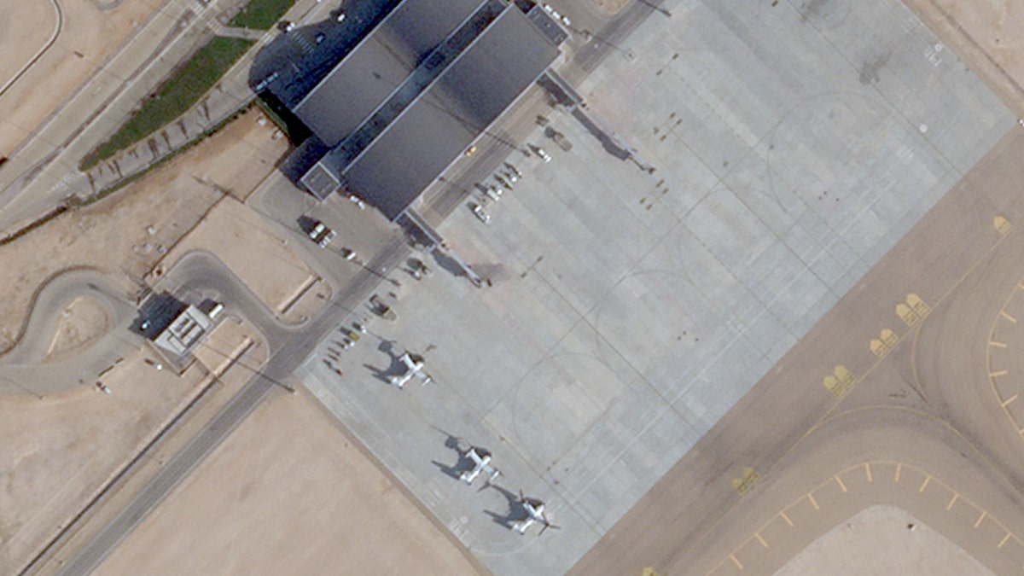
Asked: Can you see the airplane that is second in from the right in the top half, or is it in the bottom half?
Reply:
bottom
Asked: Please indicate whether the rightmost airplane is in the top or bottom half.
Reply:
bottom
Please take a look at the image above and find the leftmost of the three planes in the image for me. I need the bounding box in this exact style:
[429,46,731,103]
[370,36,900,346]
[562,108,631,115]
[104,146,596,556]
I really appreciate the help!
[389,347,438,394]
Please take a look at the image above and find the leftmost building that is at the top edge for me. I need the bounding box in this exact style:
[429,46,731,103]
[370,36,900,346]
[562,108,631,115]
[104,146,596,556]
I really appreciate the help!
[291,0,568,223]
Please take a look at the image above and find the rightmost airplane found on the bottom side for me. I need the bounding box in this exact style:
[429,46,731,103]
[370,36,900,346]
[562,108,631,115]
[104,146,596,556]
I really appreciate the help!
[510,487,561,538]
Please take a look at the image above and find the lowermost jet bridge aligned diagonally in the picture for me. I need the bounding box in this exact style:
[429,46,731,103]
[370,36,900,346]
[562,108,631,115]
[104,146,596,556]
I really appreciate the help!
[406,208,486,289]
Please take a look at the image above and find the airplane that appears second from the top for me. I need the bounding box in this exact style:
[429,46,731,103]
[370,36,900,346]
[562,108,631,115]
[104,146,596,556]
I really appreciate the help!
[457,441,506,490]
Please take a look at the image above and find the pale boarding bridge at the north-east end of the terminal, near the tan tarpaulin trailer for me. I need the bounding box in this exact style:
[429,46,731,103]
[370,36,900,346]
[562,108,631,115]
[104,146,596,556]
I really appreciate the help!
[546,68,646,166]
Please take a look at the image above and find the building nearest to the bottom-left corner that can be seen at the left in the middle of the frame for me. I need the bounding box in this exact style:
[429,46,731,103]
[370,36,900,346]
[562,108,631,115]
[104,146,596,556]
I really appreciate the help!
[153,305,213,355]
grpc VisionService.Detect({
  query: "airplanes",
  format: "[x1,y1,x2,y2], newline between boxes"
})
[389,347,438,394]
[510,487,561,538]
[457,441,506,490]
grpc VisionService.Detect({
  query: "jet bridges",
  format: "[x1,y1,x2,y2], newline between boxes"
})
[406,208,486,289]
[546,68,646,166]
